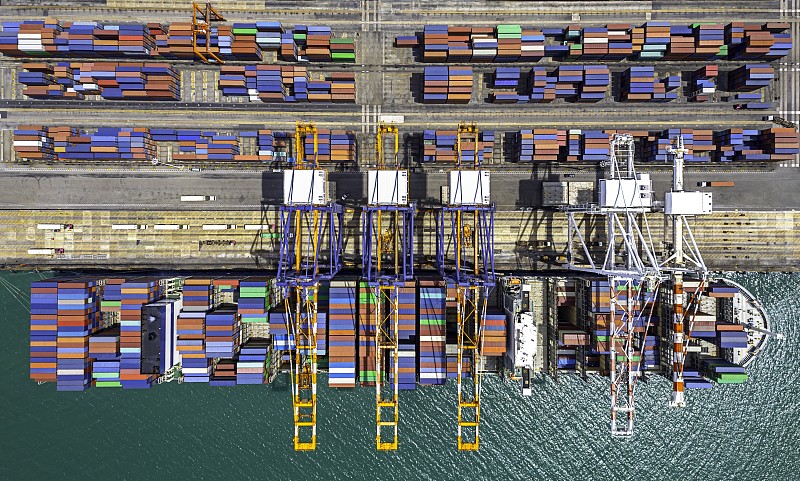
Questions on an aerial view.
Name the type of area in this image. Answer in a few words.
port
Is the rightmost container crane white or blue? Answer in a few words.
white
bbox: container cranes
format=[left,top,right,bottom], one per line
[430,121,496,452]
[273,121,349,452]
[192,2,224,64]
[355,123,419,452]
[559,134,662,436]
[620,136,712,407]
